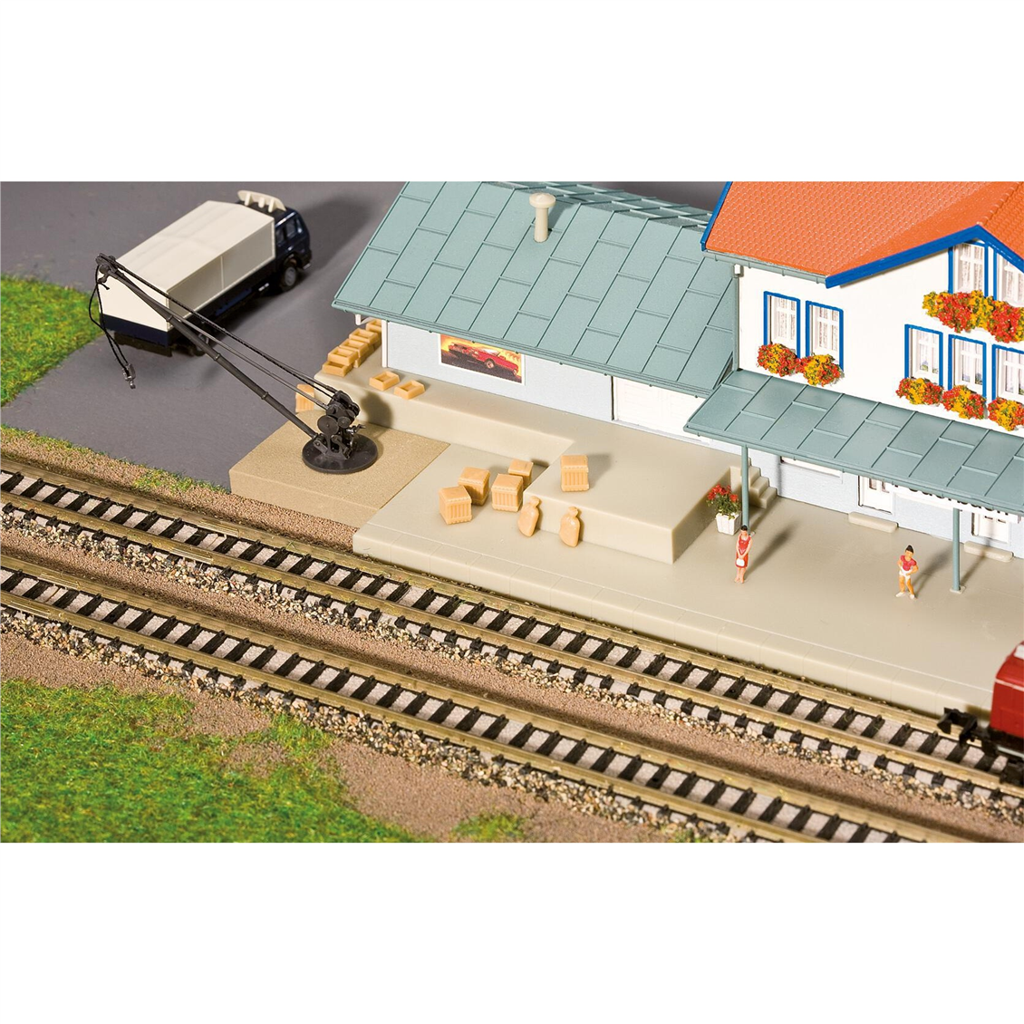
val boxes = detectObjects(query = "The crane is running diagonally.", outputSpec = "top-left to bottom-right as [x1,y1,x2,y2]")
[85,249,378,473]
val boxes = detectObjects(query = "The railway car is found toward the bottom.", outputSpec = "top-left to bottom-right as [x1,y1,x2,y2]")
[933,632,1024,782]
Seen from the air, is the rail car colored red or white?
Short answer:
red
